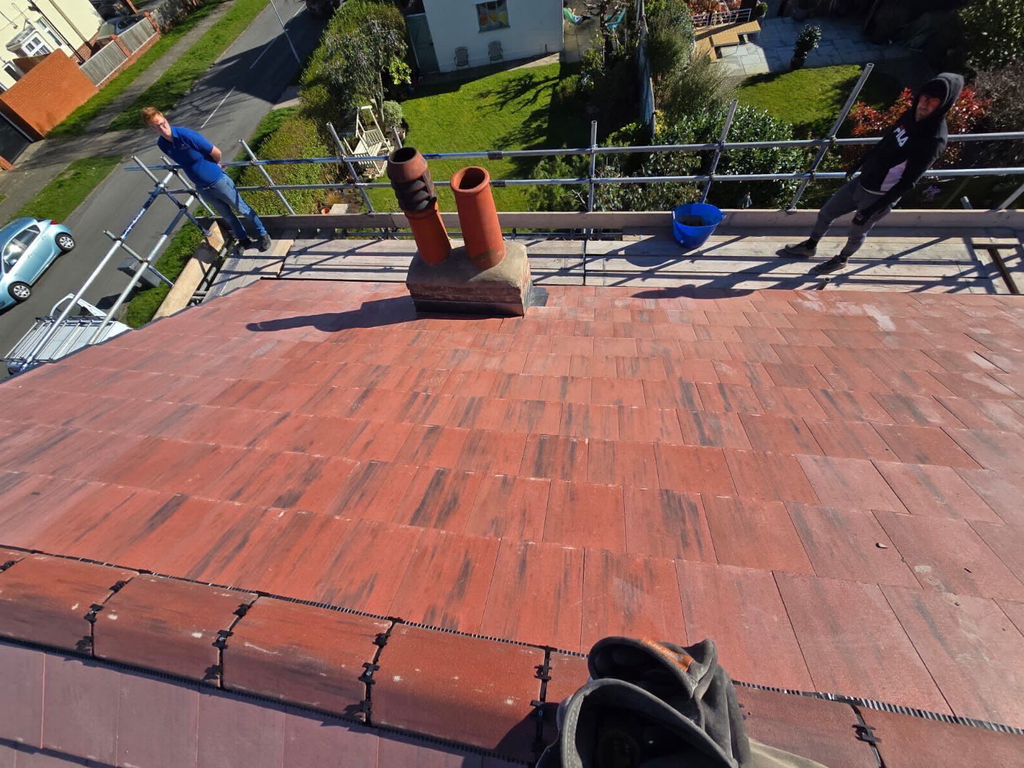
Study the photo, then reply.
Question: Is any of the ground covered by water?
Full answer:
No, water can't be seen anywhere here.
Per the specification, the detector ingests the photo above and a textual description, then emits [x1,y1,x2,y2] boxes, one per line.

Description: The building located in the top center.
[418,0,560,72]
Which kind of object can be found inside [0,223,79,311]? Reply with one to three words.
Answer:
car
